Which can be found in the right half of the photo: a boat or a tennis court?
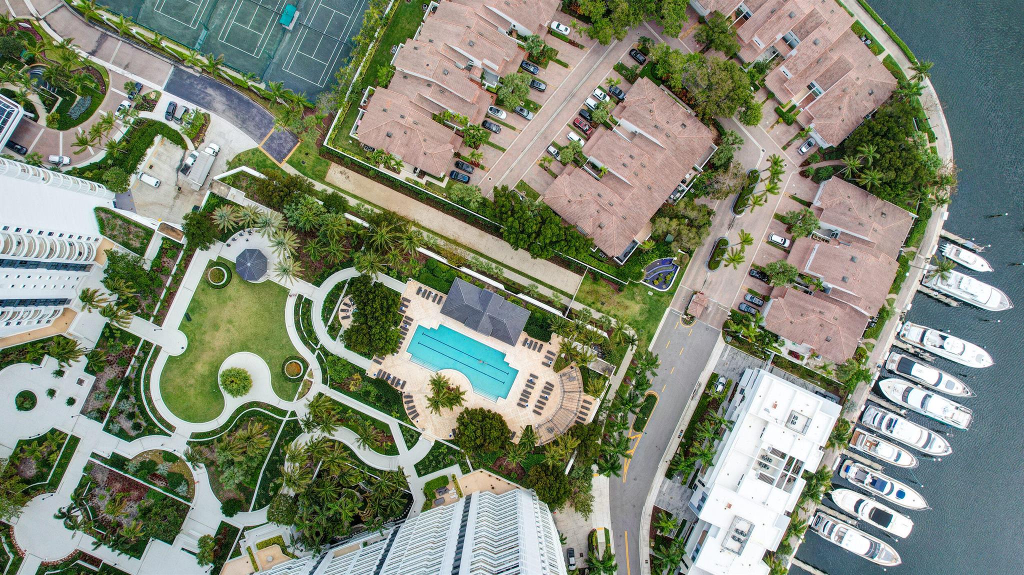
boat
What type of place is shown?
residential area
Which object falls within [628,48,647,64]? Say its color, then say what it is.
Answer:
black car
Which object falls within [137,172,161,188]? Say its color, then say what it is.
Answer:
white vehicle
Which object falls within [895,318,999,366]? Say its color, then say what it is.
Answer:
white boat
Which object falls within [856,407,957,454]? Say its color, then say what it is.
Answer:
white boat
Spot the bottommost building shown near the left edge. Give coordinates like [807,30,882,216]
[0,159,102,338]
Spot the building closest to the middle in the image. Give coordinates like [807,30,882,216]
[440,277,531,347]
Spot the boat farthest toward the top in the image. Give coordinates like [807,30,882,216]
[940,243,998,271]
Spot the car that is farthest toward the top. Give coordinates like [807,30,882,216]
[550,21,571,36]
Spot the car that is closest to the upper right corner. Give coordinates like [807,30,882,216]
[798,140,814,156]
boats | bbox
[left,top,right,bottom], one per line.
[882,351,979,398]
[829,489,912,539]
[847,430,922,467]
[856,407,957,454]
[835,458,934,511]
[895,318,999,366]
[807,512,907,566]
[916,269,1018,310]
[940,243,998,271]
[878,380,975,433]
